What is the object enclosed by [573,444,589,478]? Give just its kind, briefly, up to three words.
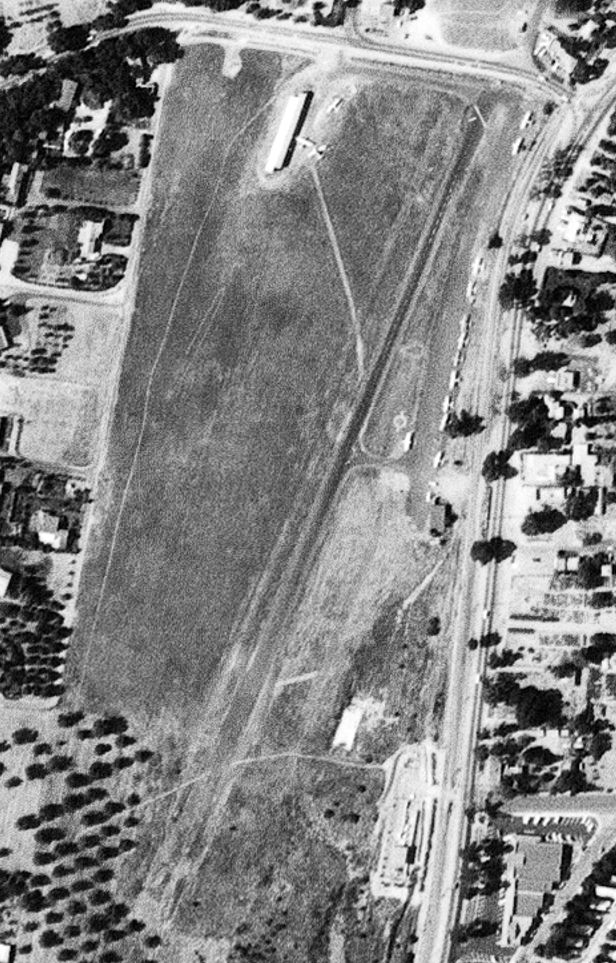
building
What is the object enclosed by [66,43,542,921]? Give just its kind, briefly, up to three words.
airport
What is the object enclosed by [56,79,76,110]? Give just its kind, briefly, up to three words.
house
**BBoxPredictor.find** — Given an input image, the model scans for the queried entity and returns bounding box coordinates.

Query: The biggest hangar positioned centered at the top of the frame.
[266,91,306,171]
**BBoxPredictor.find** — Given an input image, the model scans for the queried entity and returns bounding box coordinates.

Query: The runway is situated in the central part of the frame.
[202,102,482,831]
